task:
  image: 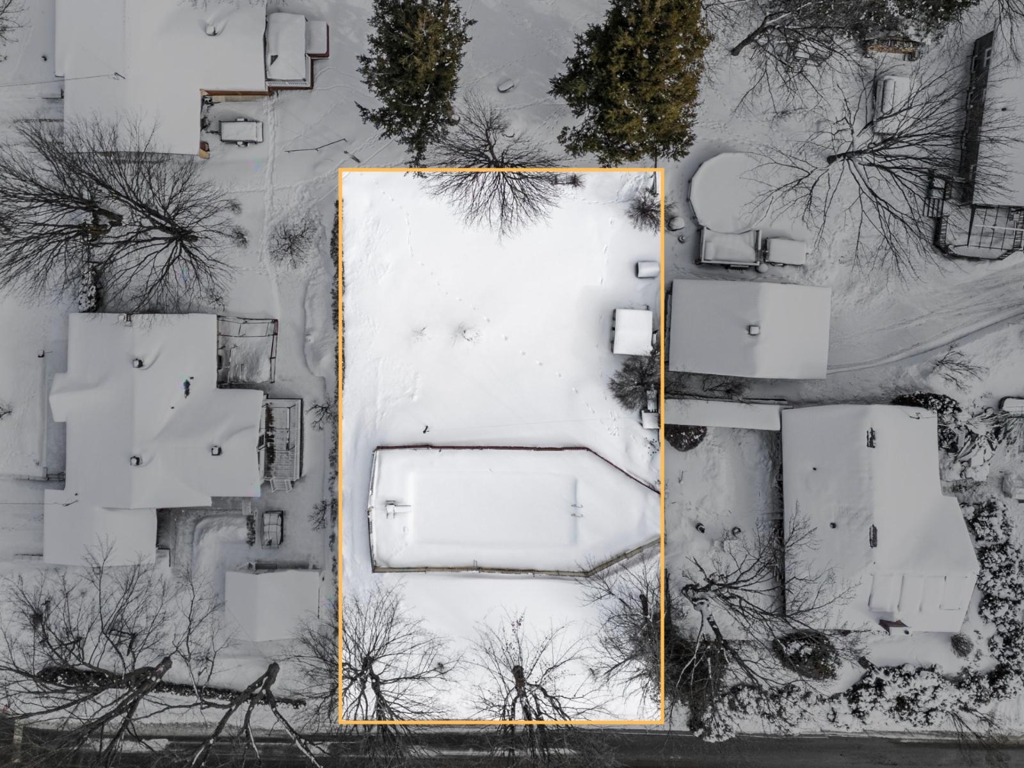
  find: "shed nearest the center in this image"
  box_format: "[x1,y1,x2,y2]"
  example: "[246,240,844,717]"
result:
[611,309,653,354]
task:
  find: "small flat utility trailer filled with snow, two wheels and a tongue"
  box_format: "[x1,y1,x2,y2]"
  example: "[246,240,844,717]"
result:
[206,117,264,145]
